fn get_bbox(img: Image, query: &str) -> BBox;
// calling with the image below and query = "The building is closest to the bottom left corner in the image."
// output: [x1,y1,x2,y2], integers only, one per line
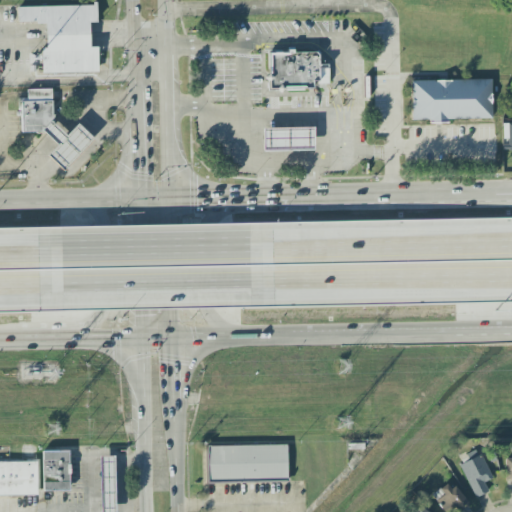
[0,460,40,496]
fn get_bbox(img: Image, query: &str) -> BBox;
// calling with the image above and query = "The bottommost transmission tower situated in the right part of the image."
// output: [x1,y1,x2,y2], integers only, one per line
[337,416,355,436]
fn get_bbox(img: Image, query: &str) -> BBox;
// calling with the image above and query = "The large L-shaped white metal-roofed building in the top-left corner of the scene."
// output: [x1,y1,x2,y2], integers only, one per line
[17,2,100,74]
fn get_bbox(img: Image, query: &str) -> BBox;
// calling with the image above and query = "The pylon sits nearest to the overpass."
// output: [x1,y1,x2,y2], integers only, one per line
[336,357,354,376]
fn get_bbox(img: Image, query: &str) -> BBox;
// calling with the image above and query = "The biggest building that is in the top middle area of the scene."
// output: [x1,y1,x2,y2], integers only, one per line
[269,48,331,91]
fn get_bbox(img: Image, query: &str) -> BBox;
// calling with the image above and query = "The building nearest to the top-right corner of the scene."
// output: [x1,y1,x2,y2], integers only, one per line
[412,79,494,124]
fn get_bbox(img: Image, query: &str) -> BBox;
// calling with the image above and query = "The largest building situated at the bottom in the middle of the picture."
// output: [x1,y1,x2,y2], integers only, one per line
[210,444,290,484]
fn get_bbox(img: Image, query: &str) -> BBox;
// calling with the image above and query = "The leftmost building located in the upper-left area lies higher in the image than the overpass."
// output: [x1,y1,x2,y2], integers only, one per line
[18,88,56,132]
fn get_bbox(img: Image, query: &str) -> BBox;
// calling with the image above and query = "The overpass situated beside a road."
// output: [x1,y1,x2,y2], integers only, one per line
[0,217,512,310]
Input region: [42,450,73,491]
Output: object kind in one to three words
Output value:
building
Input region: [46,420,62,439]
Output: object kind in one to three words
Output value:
pylon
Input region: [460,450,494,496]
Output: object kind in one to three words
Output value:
house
